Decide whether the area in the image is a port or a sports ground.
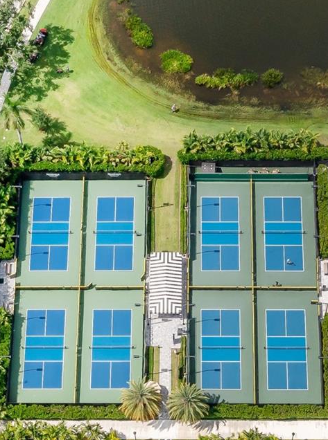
sports ground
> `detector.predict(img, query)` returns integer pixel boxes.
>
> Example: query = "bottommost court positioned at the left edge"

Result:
[9,289,79,403]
